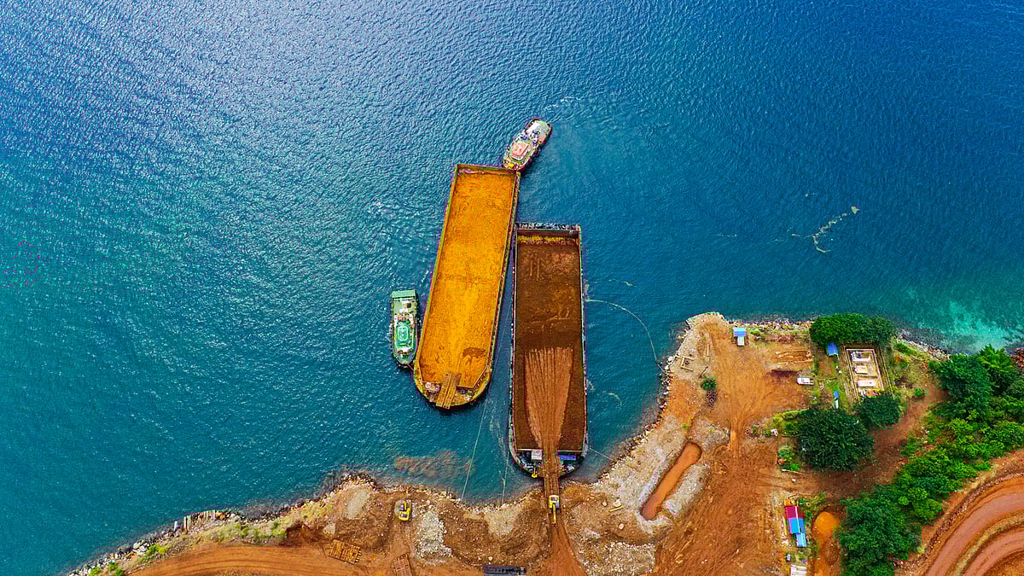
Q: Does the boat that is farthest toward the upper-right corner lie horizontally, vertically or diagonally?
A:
diagonally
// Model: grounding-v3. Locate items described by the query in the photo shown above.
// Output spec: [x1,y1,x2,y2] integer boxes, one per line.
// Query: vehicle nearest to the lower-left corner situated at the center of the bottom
[397,495,410,522]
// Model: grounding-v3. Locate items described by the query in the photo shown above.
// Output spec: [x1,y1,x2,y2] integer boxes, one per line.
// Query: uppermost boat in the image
[503,114,553,170]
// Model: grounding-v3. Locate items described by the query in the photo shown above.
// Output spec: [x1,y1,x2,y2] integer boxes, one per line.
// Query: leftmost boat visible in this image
[390,288,420,368]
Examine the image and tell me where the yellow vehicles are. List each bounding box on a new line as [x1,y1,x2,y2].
[548,492,559,528]
[397,495,410,522]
